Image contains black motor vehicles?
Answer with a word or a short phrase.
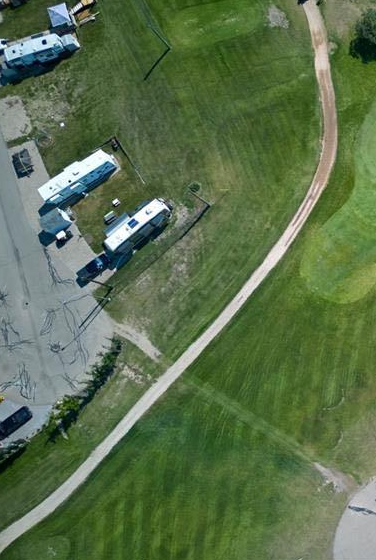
Yes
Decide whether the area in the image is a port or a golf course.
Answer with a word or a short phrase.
golf course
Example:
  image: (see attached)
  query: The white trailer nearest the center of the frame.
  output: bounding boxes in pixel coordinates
[104,198,179,254]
